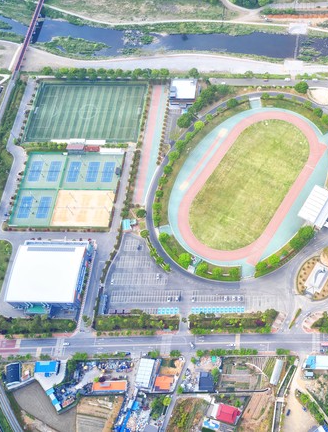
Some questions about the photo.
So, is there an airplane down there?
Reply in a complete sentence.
No, no airplane can be seen from above.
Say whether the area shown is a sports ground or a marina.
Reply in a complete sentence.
This looks like a sports ground.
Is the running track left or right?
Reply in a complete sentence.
You can find the running track on the right side of the picture.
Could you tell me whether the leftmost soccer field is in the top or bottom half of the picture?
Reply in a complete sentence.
The top half of the photo is where the leftmost soccer field is.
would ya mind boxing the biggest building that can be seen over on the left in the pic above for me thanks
[5,240,98,315]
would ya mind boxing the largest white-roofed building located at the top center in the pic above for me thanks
[168,78,198,113]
